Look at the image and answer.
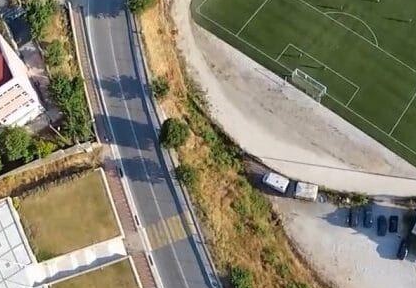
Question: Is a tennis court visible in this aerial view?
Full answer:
No, no tennis court is visible in the view.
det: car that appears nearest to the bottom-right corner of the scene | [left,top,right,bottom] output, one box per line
[398,237,411,261]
